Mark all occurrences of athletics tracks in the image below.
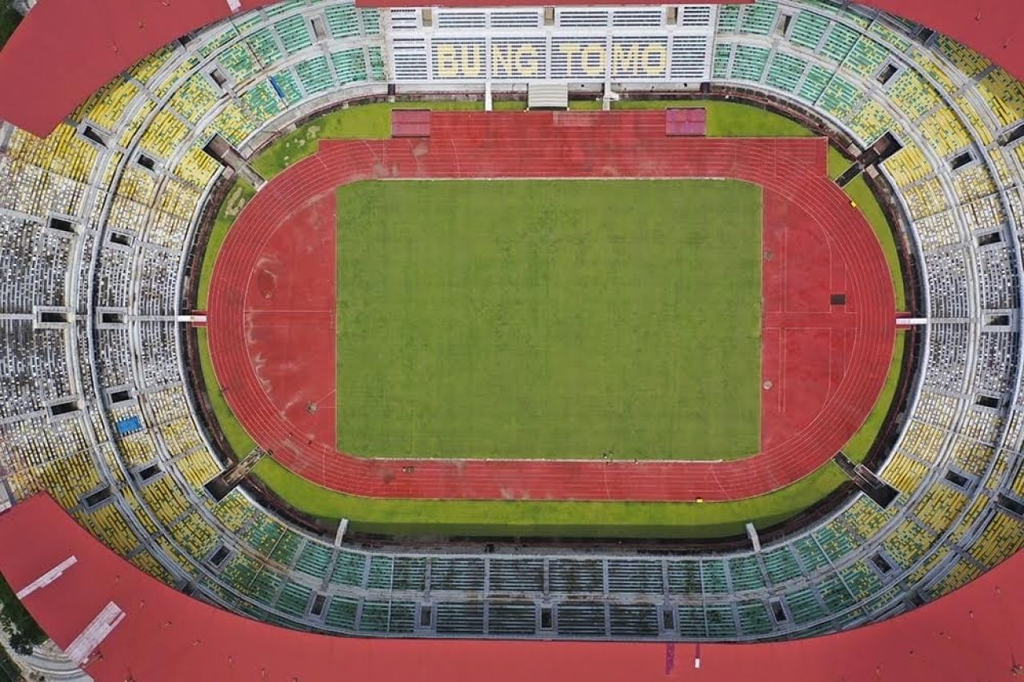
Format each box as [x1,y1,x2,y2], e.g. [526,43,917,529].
[192,109,911,502]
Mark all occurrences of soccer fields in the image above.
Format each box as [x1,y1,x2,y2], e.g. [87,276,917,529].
[336,177,761,462]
